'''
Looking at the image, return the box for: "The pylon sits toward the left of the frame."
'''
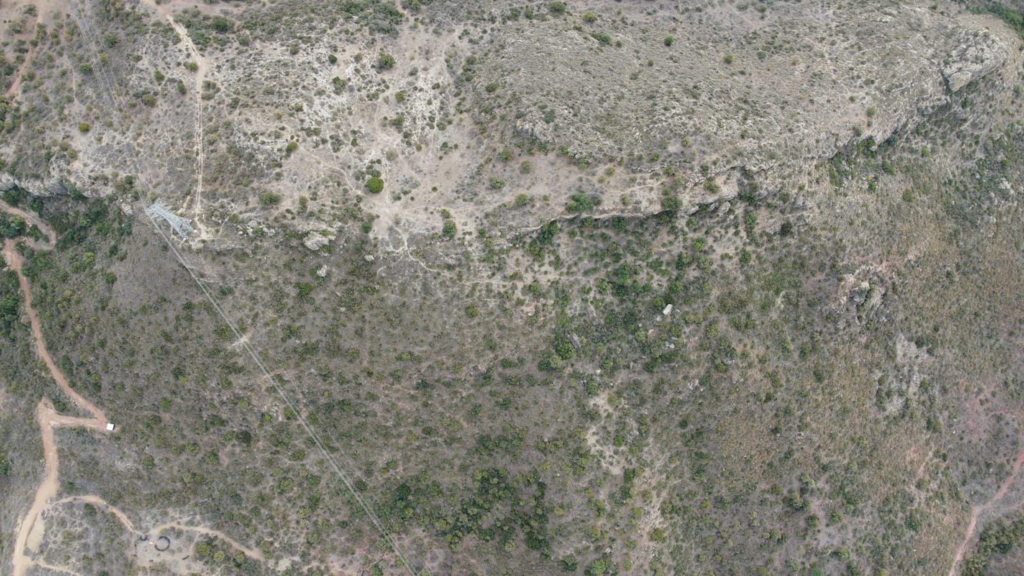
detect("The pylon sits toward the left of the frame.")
[147,206,198,240]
